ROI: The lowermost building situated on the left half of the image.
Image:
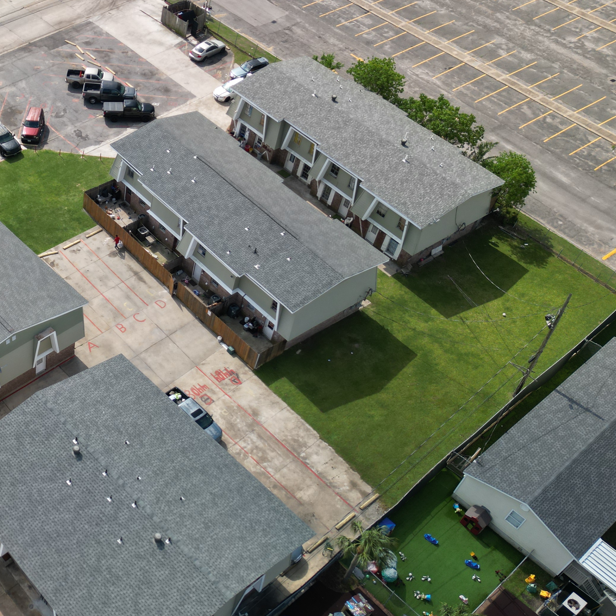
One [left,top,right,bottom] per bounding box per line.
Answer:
[0,354,316,616]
